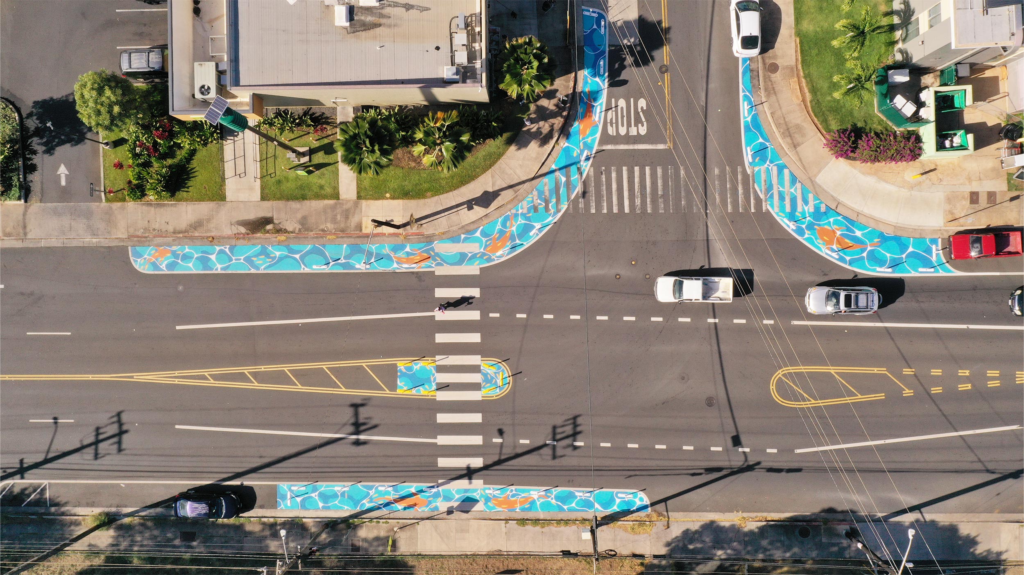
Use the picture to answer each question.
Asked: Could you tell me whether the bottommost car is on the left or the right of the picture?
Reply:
left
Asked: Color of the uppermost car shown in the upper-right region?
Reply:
white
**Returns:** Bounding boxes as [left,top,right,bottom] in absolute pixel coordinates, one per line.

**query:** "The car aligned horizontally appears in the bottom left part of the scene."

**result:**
[174,491,244,524]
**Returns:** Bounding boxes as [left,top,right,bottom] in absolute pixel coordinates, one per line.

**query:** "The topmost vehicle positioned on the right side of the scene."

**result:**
[729,0,763,57]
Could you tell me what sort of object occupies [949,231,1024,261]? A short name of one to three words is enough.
truck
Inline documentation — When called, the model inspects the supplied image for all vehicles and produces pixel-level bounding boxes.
[1008,287,1024,315]
[729,0,763,57]
[122,48,167,81]
[949,231,1024,261]
[804,284,884,317]
[174,491,244,524]
[651,273,733,306]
